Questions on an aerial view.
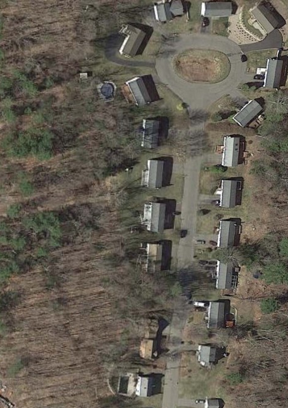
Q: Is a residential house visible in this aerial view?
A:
Yes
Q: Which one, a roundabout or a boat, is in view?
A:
roundabout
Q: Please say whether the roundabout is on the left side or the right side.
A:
right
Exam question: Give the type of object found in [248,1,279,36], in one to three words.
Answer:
house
